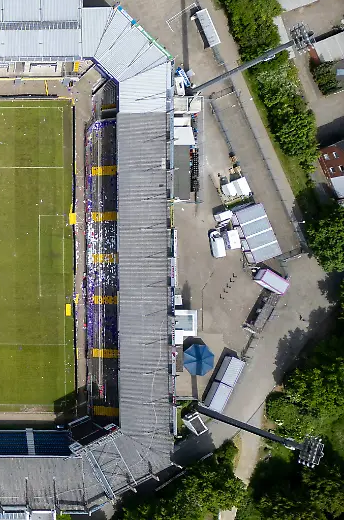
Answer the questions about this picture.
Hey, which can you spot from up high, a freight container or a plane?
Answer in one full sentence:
There is a freight container in the scene.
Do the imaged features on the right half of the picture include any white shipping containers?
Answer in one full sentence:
Yes, on the right half of the picture there is a white shipping container.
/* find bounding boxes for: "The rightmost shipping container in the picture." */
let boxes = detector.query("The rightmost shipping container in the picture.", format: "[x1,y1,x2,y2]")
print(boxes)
[247,269,289,294]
